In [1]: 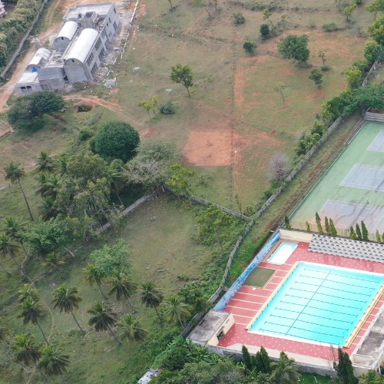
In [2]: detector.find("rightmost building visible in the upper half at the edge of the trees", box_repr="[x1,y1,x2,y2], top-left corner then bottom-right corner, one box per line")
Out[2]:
[16,2,121,96]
